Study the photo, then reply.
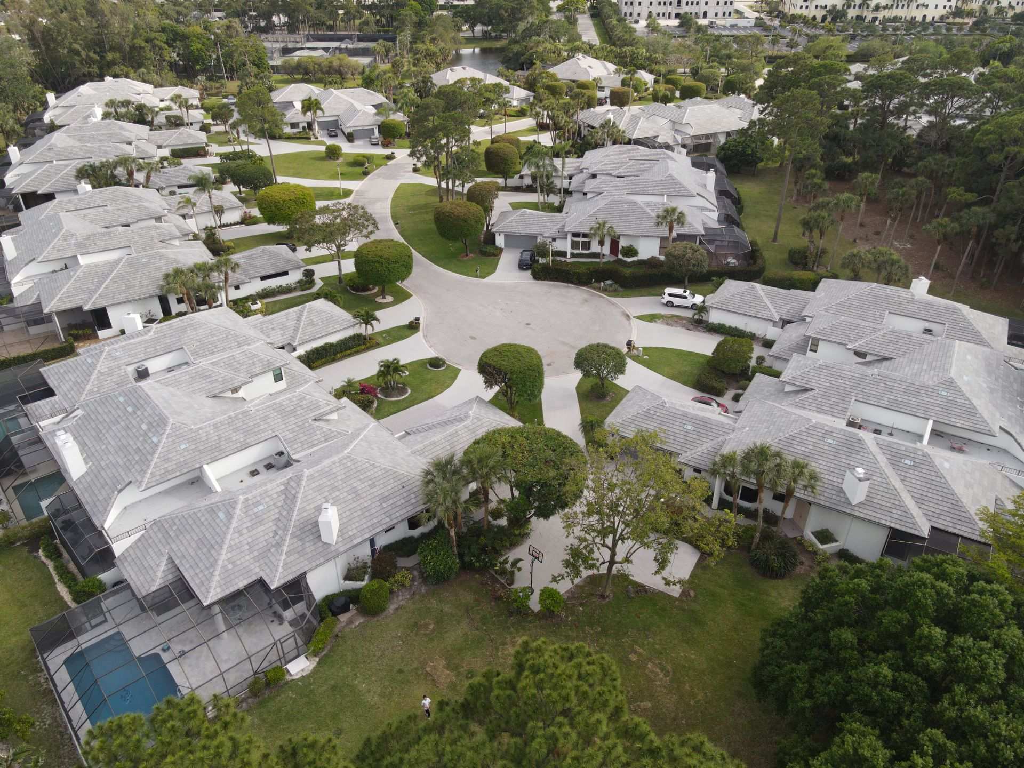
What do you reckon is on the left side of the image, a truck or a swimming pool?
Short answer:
swimming pool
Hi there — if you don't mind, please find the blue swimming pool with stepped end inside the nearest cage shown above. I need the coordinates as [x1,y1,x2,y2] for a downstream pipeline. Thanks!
[63,632,194,764]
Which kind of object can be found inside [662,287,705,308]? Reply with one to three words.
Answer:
car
